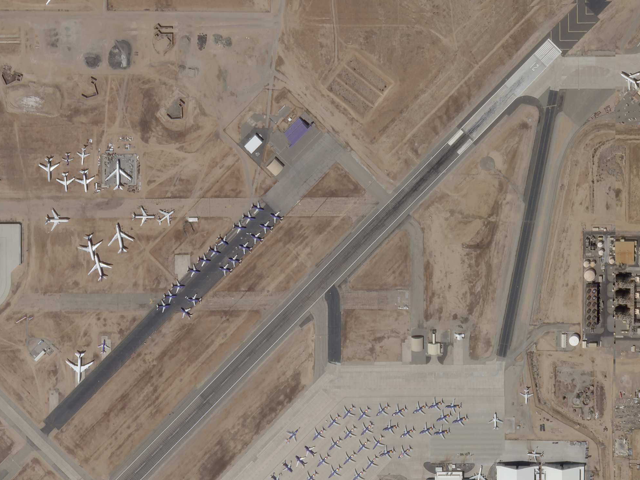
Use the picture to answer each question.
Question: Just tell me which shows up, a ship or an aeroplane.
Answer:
aeroplane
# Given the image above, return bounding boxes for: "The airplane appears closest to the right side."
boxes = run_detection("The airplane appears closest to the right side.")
[621,71,640,89]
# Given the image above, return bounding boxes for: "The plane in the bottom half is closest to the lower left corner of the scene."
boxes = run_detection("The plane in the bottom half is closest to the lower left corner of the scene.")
[66,352,95,383]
